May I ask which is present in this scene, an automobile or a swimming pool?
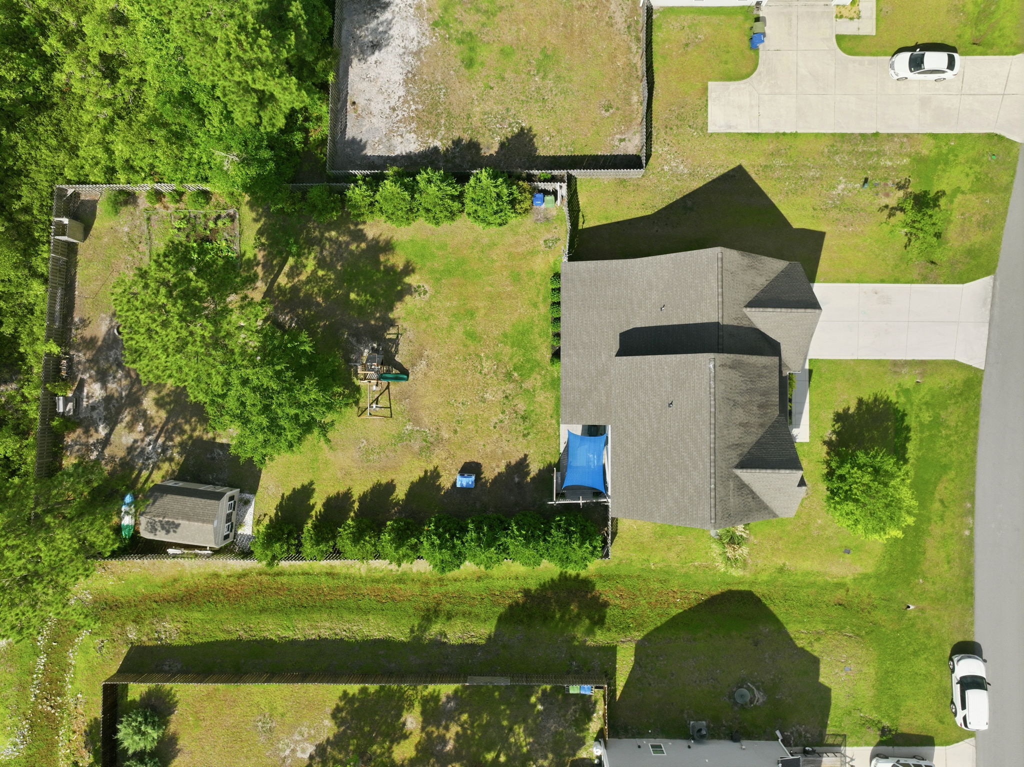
automobile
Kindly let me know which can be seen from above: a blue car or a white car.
white car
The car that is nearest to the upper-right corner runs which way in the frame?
from left to right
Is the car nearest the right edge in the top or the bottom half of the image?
bottom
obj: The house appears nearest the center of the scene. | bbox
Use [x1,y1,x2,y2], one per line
[560,248,821,529]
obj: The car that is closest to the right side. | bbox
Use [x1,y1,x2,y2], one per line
[947,651,989,728]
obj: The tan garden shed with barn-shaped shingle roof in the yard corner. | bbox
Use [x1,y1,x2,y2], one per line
[139,480,240,549]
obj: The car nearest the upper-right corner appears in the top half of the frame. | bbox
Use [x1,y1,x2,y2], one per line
[886,47,959,84]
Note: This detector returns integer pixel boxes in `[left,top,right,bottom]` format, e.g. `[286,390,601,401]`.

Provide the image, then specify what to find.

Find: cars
[869,753,940,767]
[947,651,989,728]
[886,47,959,84]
